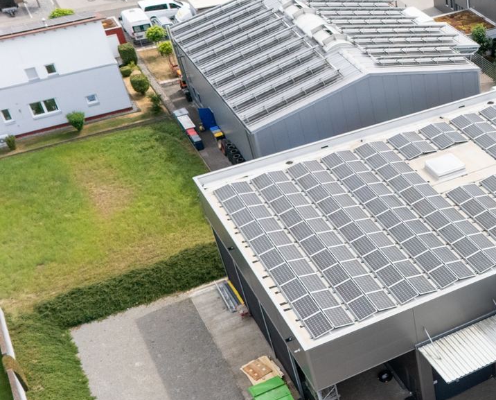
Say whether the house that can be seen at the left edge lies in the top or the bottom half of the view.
top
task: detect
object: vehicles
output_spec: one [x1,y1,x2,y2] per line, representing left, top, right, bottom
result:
[119,8,148,43]
[0,0,29,17]
[154,17,177,36]
[167,56,190,94]
[139,0,186,21]
[175,3,201,23]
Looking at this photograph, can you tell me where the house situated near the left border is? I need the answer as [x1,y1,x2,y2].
[0,5,131,138]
